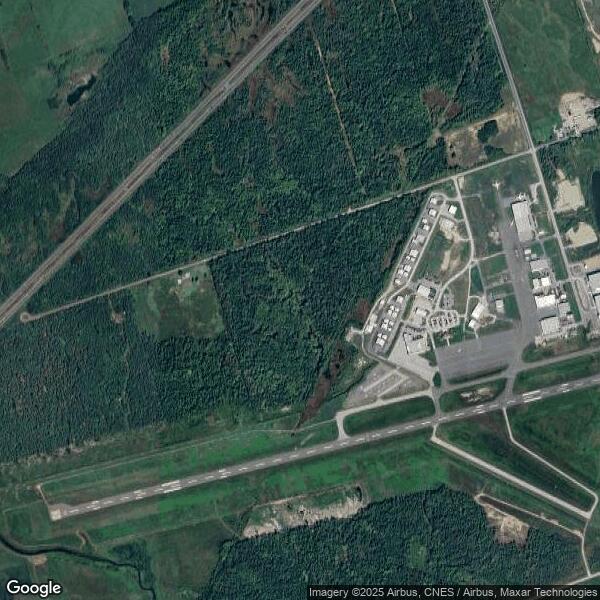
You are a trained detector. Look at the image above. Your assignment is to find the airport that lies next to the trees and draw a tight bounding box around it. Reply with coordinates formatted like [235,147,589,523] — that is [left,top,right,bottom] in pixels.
[49,193,600,520]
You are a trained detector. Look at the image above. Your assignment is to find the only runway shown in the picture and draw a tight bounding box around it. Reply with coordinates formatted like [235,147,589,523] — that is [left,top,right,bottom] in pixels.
[58,374,600,520]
